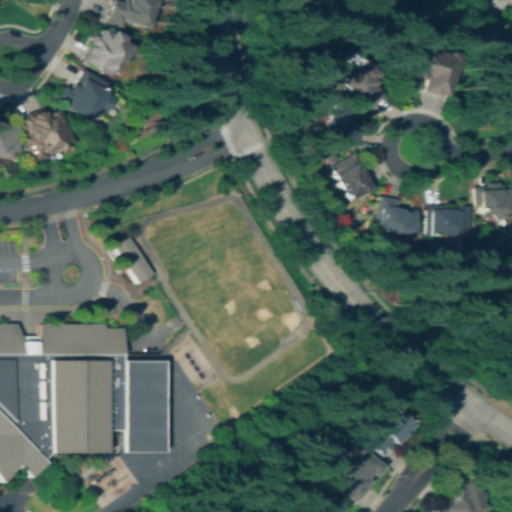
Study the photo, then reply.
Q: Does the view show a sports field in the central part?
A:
Yes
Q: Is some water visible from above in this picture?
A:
No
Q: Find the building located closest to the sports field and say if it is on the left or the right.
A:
left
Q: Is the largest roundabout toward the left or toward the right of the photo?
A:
right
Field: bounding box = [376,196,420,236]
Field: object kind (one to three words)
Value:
house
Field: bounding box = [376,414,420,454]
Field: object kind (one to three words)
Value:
house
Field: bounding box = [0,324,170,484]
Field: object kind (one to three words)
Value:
building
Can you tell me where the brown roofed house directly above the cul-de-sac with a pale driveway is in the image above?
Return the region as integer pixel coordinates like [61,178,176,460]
[428,50,464,95]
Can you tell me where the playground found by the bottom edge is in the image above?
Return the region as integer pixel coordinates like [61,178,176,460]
[84,457,139,508]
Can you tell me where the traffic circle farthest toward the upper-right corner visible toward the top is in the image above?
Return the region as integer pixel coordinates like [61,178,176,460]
[388,115,454,184]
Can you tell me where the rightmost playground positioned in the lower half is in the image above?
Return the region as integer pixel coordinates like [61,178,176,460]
[174,334,218,388]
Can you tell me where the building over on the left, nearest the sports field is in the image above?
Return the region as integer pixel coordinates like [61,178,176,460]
[115,238,156,284]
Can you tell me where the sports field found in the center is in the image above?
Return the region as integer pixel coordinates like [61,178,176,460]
[144,202,300,376]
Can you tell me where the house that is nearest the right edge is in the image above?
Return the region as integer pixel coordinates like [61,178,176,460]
[472,184,512,218]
